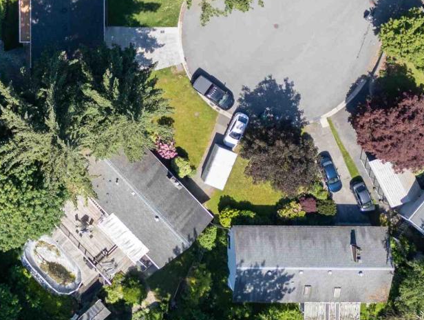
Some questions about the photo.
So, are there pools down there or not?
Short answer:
Yes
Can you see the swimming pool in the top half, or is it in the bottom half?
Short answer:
bottom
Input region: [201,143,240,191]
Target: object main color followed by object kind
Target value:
white trailer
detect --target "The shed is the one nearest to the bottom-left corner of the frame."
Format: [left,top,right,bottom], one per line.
[77,300,111,320]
